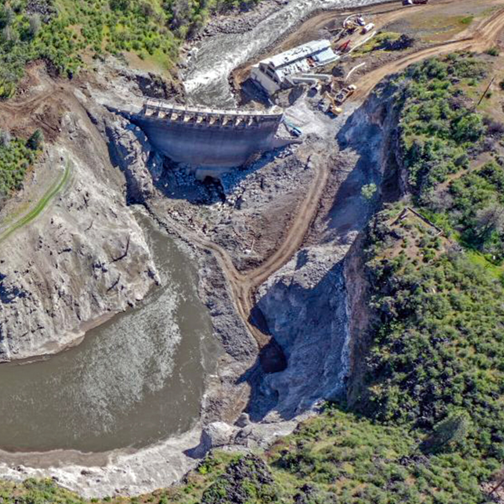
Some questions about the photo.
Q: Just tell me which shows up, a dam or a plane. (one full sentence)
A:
Visible in the photo is a dam.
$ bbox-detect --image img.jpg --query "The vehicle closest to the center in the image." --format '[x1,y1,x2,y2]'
[284,112,307,134]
